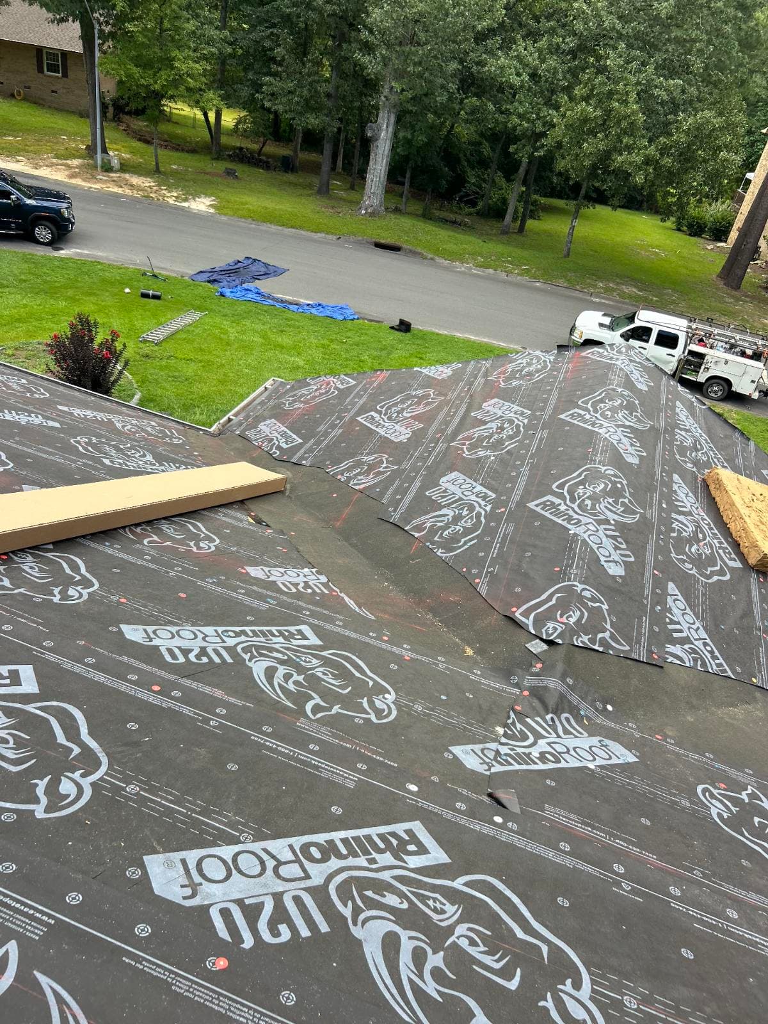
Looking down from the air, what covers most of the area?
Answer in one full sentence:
For the most part, this view shows buildings.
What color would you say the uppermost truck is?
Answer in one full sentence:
The uppermost truck is black.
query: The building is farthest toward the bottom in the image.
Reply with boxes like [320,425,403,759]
[0,341,768,1024]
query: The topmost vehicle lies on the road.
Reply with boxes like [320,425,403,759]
[0,165,81,244]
